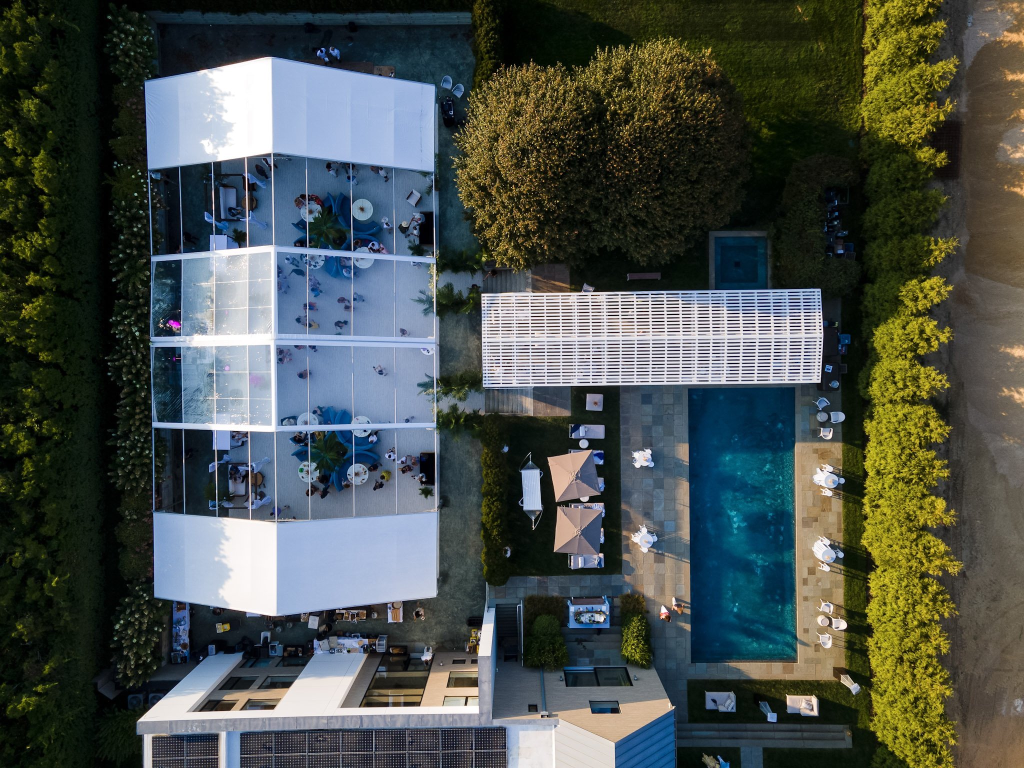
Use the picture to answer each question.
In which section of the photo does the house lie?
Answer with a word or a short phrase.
bottom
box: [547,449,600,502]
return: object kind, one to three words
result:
umbrella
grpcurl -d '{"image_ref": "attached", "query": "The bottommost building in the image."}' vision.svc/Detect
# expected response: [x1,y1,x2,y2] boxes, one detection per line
[136,603,682,768]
